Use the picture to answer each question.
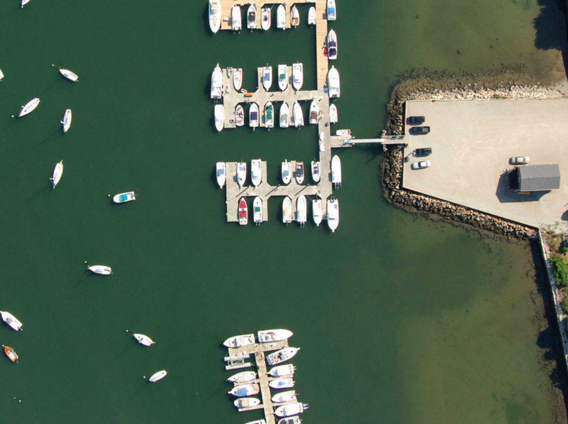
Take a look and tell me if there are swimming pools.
No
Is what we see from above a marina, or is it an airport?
marina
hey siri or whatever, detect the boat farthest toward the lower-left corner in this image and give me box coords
[4,346,19,364]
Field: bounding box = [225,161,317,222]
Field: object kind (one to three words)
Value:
pier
